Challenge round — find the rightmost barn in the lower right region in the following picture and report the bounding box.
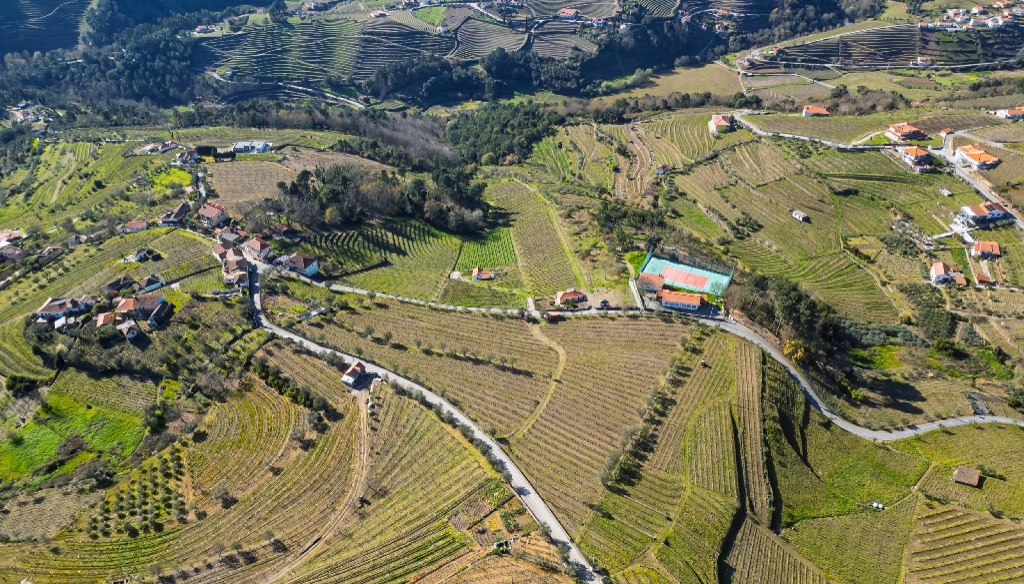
[947,467,984,489]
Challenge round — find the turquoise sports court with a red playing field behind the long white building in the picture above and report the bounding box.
[641,256,729,295]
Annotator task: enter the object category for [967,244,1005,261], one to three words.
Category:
house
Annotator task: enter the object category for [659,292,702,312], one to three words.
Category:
building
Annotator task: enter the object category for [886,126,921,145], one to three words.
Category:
house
